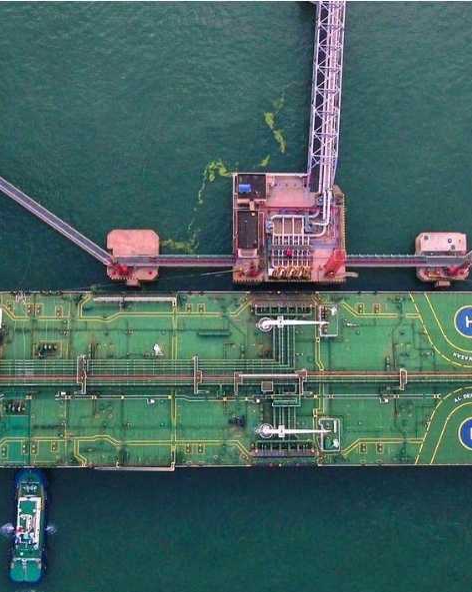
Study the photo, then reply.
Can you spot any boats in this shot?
Yes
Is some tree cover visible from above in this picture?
No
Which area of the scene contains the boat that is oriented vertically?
bottom left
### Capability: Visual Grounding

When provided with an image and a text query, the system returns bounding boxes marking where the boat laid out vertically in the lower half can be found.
[8,469,46,584]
